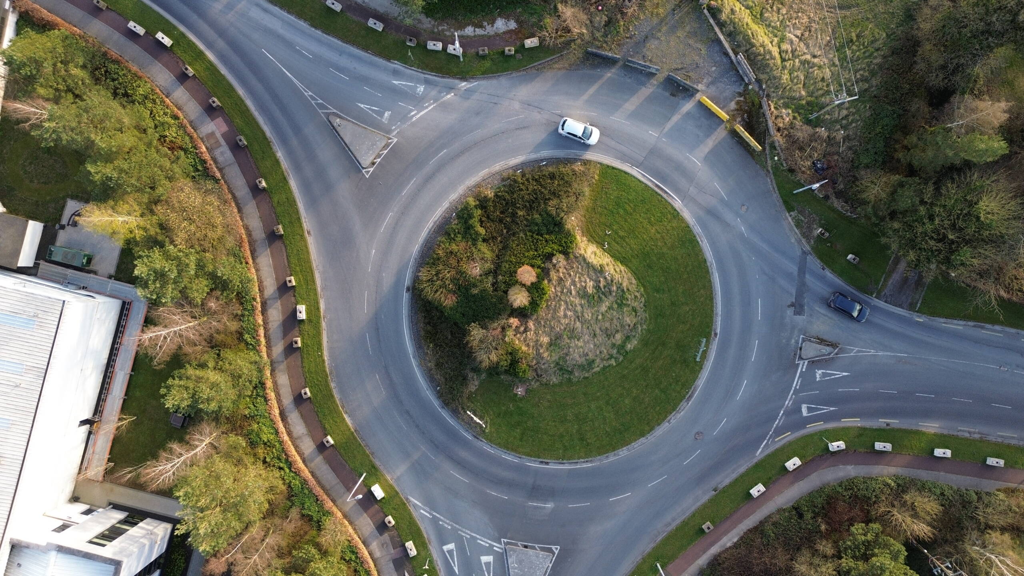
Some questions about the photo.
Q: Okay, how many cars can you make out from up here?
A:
two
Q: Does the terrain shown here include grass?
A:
Yes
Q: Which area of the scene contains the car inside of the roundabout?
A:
top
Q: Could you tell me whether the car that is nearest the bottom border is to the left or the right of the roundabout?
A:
to its right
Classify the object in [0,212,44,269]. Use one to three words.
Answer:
shed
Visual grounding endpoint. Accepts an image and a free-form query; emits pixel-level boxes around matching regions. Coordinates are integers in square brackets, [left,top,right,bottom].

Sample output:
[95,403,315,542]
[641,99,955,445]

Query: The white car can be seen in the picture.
[558,117,601,145]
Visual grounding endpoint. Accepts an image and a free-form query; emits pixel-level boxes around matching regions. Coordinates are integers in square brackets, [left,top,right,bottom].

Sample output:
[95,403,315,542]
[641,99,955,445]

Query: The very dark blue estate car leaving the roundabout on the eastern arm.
[824,290,870,323]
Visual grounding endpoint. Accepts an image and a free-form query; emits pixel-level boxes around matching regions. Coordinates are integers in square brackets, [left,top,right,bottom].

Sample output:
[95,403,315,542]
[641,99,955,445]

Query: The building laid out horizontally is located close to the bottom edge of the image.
[0,501,173,576]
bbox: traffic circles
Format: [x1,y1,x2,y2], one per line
[331,78,793,540]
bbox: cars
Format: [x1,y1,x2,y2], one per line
[824,290,870,323]
[558,117,601,145]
